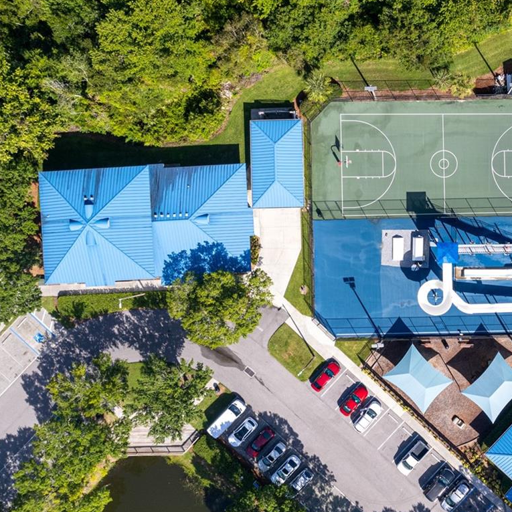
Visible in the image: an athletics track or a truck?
truck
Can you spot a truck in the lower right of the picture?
Yes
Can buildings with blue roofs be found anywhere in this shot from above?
Yes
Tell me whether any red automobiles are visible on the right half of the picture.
Yes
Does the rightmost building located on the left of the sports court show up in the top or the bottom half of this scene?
top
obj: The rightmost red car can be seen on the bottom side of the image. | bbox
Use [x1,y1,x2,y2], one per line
[340,386,369,417]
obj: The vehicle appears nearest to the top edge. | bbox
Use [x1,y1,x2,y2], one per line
[311,362,341,393]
